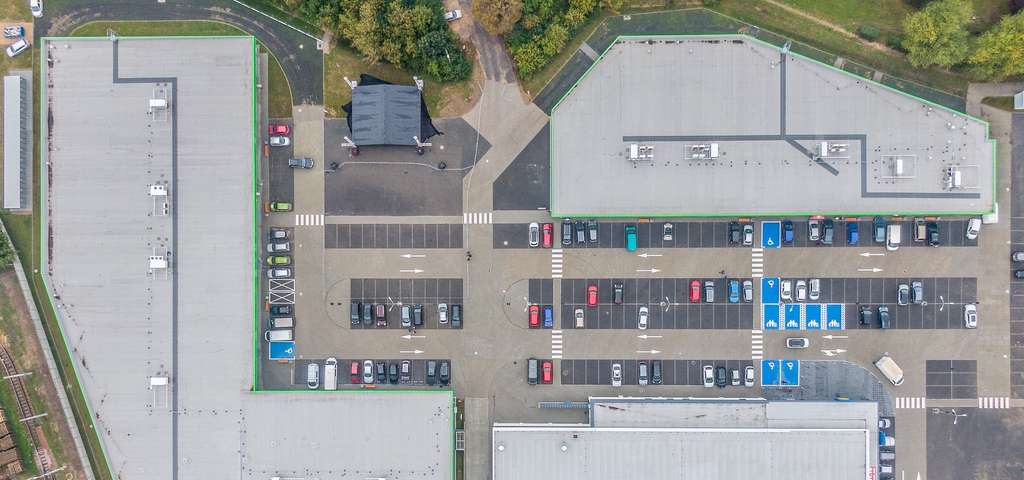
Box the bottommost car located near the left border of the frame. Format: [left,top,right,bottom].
[7,38,31,57]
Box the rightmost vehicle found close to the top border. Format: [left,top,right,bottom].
[443,8,464,22]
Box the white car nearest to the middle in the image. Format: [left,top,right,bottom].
[528,222,540,246]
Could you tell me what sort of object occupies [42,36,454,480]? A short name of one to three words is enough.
building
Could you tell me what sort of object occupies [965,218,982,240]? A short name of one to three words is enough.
vehicle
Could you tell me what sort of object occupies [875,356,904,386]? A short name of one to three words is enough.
truck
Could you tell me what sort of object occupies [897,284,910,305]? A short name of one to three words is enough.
vehicle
